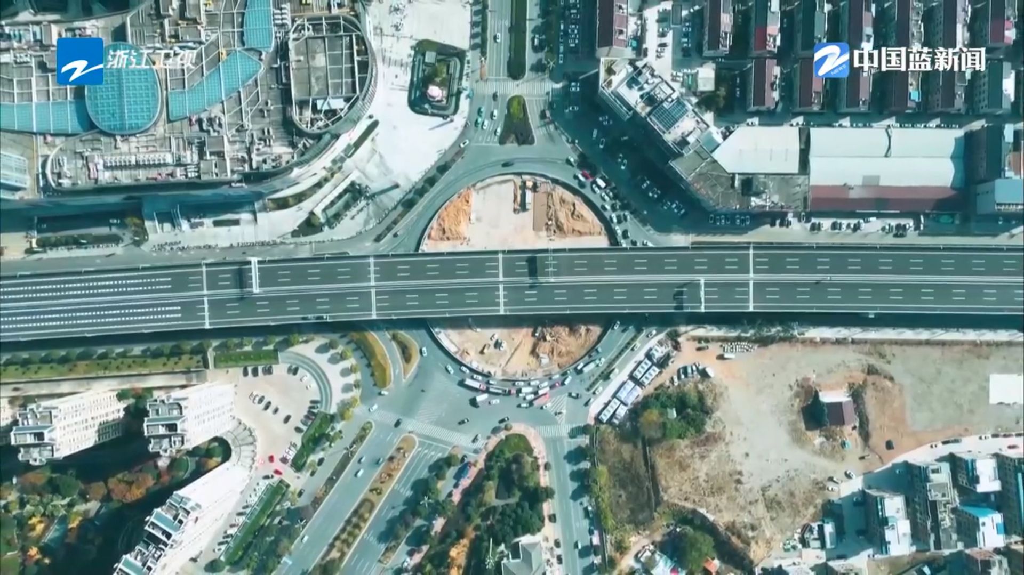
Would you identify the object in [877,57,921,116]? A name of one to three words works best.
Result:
building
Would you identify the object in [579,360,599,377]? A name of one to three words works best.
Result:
vehicle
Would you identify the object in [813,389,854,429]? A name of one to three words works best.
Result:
house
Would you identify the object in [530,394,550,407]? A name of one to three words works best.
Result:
vehicle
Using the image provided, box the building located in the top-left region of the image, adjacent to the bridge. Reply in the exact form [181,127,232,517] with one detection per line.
[0,0,382,234]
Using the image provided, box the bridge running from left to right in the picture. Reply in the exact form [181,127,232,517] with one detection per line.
[0,245,1024,342]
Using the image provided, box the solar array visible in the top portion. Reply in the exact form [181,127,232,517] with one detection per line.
[651,100,690,131]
